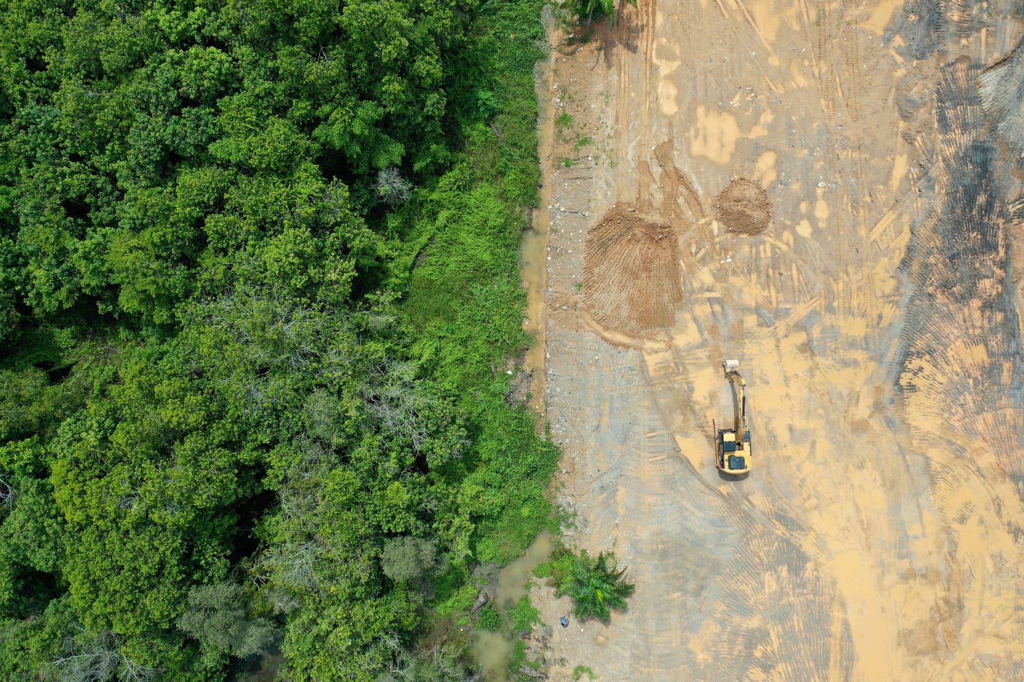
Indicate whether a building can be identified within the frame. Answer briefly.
No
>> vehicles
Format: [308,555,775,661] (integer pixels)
[710,359,755,477]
